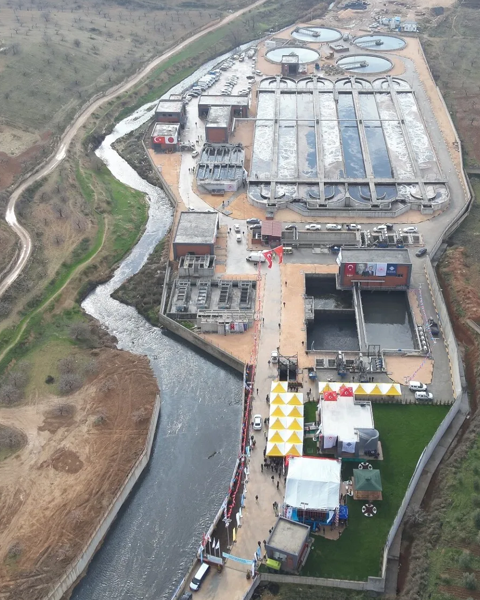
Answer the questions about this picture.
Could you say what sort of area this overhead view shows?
industrial area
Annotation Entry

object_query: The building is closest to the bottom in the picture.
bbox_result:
[262,517,318,575]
